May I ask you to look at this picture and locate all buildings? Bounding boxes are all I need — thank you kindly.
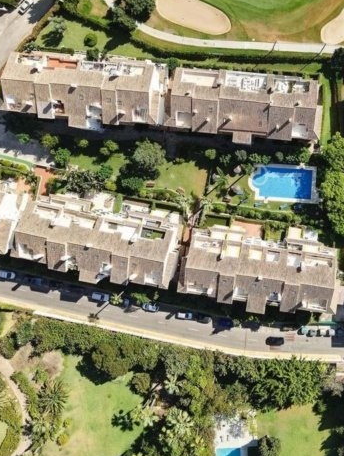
[10,195,185,289]
[179,224,344,315]
[0,52,170,134]
[162,66,322,153]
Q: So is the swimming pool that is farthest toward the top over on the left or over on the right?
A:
right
